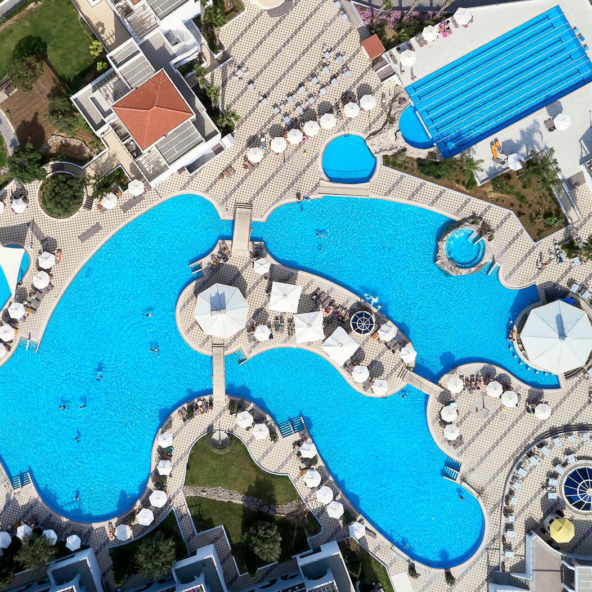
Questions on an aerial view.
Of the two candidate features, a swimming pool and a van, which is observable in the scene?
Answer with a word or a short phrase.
swimming pool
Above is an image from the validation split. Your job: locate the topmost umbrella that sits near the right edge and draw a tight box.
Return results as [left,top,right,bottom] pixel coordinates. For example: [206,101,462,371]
[554,113,573,131]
